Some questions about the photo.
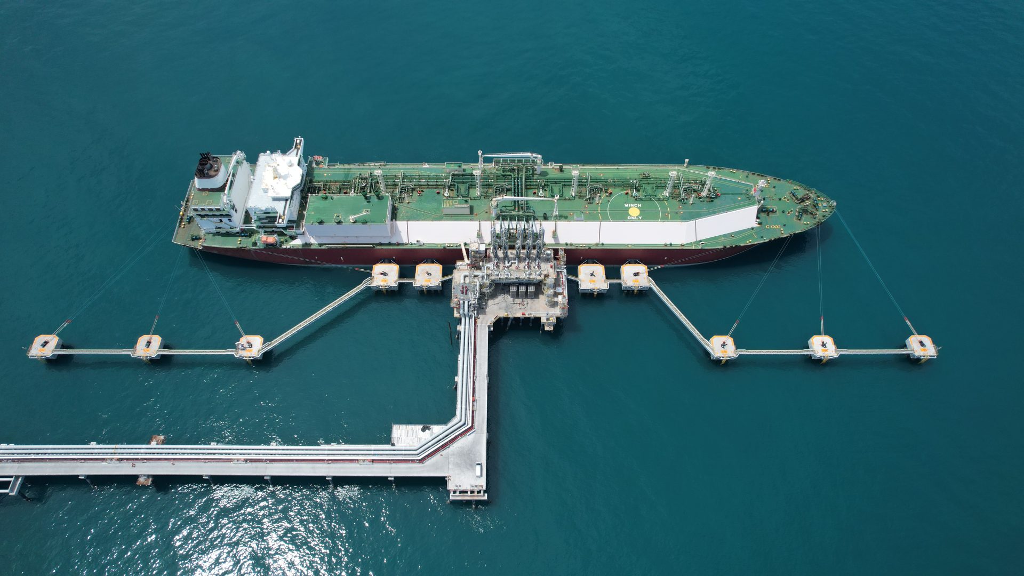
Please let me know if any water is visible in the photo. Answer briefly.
Yes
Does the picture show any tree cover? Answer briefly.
No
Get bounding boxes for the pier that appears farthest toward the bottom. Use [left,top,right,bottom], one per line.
[0,324,492,491]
